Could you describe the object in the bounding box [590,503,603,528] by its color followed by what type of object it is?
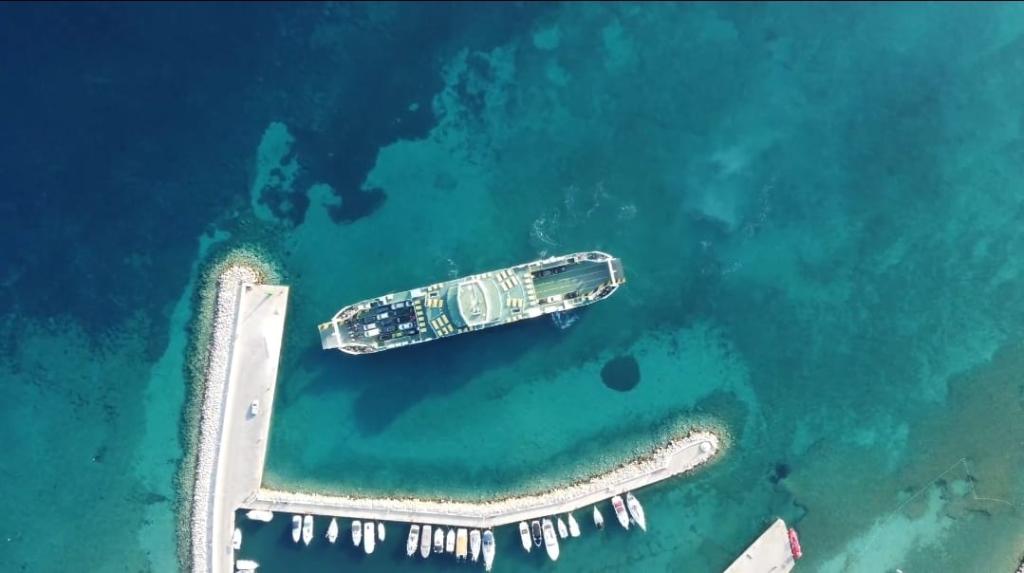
white boat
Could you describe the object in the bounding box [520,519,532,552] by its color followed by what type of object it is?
white boat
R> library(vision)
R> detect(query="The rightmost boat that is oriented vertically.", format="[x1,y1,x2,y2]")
[789,528,803,560]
